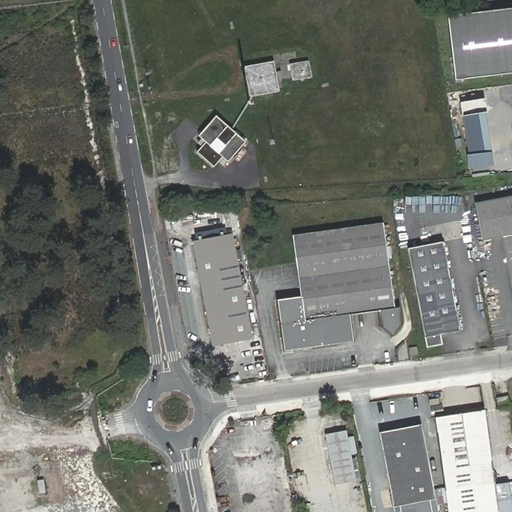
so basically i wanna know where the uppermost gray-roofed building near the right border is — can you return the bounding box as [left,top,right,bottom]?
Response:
[448,8,512,81]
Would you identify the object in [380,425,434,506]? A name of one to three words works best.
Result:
shed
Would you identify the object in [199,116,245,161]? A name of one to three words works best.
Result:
building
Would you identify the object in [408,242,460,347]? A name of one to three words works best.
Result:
shed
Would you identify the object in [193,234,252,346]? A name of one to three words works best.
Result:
building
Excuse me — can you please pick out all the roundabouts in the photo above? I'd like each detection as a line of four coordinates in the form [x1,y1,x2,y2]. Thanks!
[118,364,233,468]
